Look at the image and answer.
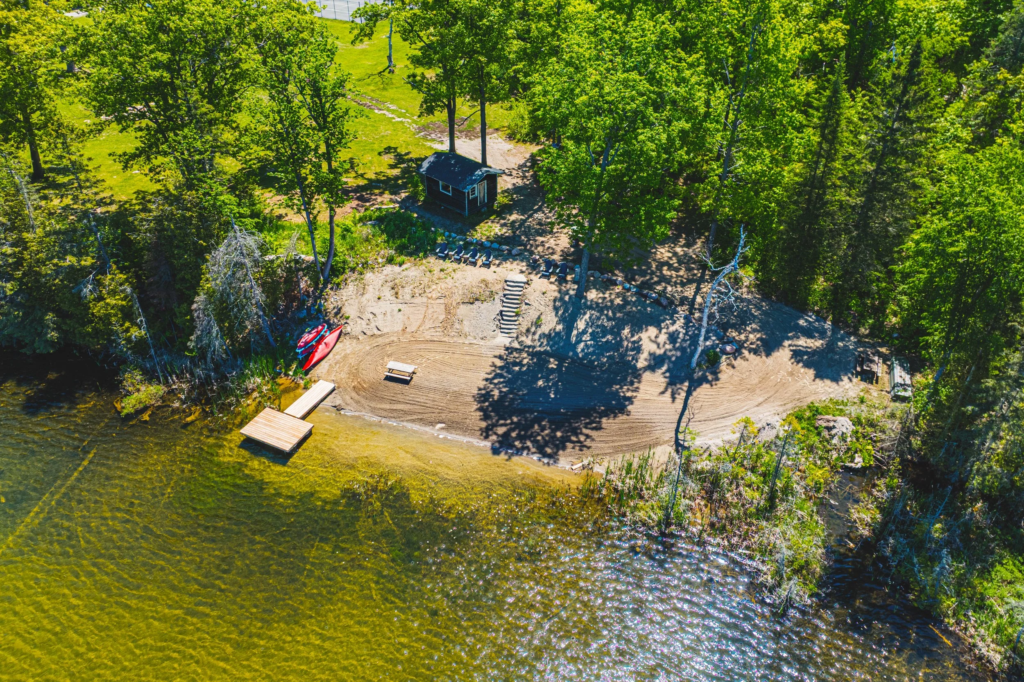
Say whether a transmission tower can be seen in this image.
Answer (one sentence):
No, there's no transmission tower here.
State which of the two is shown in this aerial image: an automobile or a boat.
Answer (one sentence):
It is a boat that can be seen here.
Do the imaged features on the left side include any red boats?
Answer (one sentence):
Yes, on the left side there is a red boat.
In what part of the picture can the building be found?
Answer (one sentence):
The building is in the top part of the image.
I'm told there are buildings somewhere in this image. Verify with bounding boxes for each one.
[421,152,503,216]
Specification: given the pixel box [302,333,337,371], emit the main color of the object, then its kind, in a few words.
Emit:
red boat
